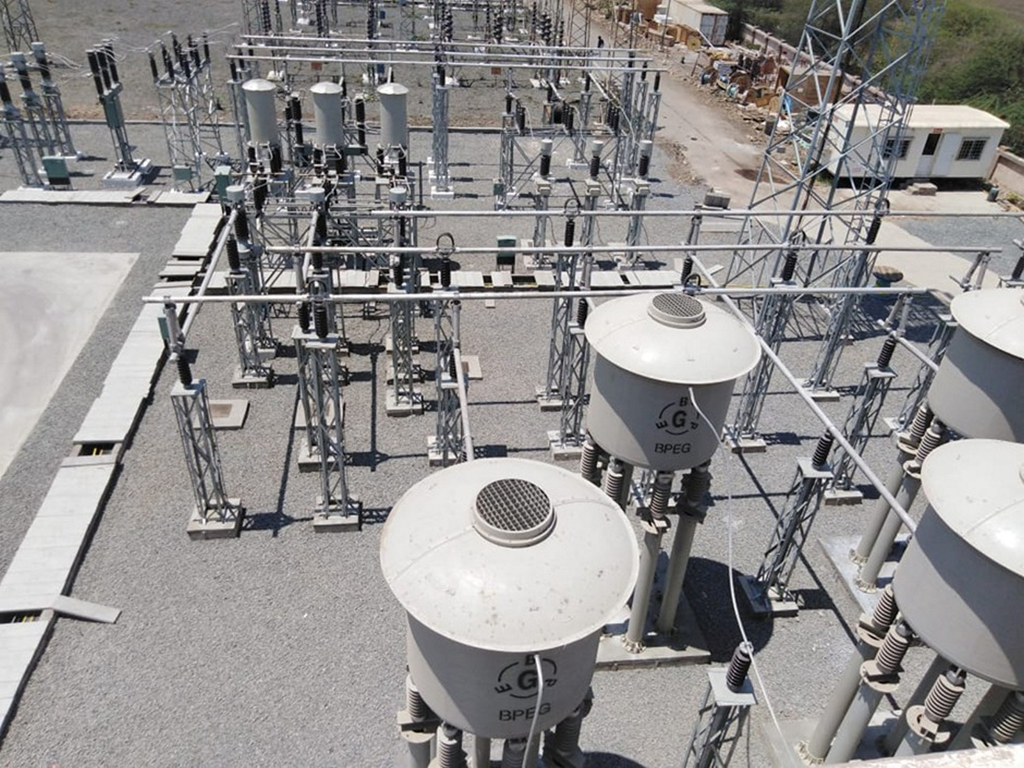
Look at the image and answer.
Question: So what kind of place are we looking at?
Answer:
industrial area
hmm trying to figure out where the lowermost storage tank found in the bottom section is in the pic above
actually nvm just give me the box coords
[408,614,603,733]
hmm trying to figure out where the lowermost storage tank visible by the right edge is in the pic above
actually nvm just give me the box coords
[897,507,1024,684]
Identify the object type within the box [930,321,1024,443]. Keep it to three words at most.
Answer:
storage tank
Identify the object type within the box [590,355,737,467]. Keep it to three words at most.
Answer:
storage tank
